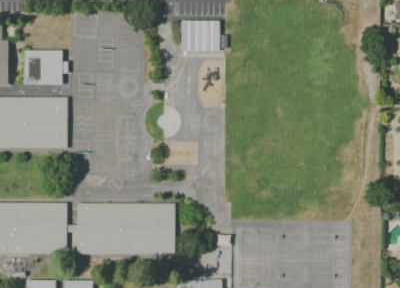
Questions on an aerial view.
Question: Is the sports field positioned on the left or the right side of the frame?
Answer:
right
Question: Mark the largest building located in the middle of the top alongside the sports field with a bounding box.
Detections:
[181,20,220,52]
